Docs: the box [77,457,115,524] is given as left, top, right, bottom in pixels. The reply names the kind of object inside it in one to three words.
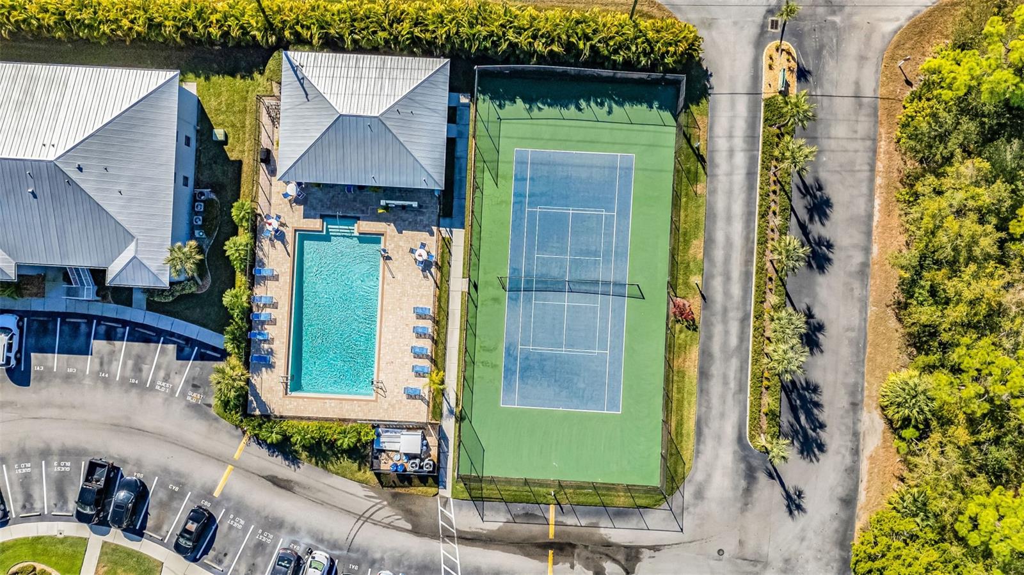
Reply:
truck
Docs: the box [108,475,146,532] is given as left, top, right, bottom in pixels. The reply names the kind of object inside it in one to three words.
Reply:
car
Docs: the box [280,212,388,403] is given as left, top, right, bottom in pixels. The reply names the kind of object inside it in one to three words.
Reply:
swimming pool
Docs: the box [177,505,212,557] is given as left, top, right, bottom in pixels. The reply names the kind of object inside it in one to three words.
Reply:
car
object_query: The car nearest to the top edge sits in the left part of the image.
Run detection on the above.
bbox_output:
[0,314,22,368]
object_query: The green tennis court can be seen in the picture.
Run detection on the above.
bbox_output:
[459,74,678,487]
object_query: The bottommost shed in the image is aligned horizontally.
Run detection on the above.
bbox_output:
[373,431,422,457]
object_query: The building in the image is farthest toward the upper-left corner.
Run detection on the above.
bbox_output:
[0,62,198,288]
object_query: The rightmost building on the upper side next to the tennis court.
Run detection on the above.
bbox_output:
[277,50,451,190]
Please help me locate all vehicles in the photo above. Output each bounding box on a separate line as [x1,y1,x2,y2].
[269,547,297,575]
[0,314,22,368]
[77,457,115,524]
[302,550,327,575]
[108,475,146,532]
[301,545,312,564]
[376,569,396,575]
[177,505,212,557]
[0,480,8,525]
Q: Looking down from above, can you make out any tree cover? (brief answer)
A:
Yes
